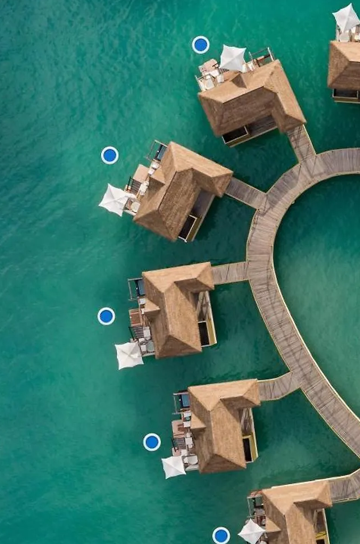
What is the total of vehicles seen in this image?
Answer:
zero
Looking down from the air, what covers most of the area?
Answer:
water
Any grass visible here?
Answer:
No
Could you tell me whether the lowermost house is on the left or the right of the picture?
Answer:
right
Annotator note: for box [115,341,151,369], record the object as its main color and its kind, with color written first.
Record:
white umbrella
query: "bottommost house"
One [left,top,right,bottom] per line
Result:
[243,476,333,544]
